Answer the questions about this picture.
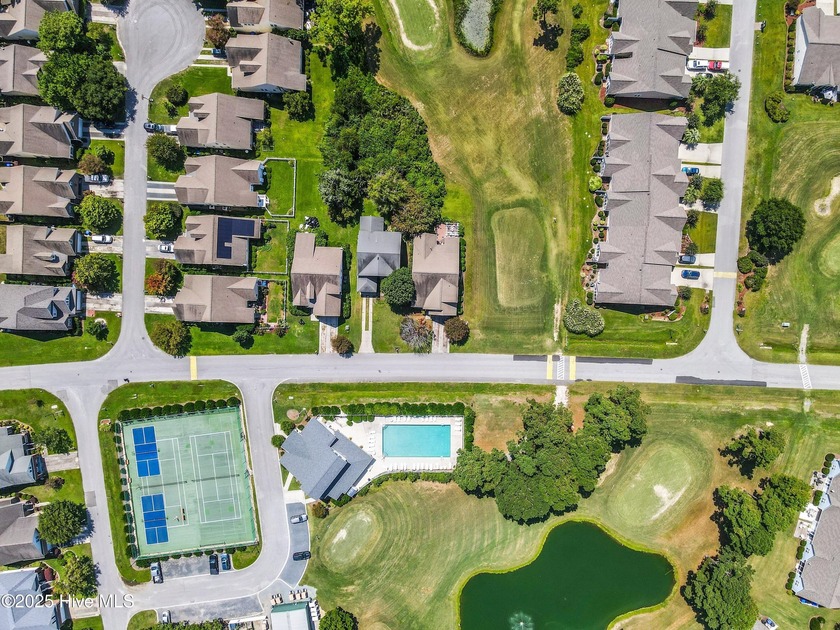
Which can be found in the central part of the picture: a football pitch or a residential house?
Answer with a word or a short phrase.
residential house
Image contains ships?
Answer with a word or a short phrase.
No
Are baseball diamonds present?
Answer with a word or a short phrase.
No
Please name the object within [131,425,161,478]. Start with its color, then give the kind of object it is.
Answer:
blue sports court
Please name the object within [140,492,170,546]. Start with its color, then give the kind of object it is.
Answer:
blue sports court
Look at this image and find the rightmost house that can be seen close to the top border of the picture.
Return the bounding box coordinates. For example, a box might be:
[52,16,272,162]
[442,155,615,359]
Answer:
[795,2,840,88]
